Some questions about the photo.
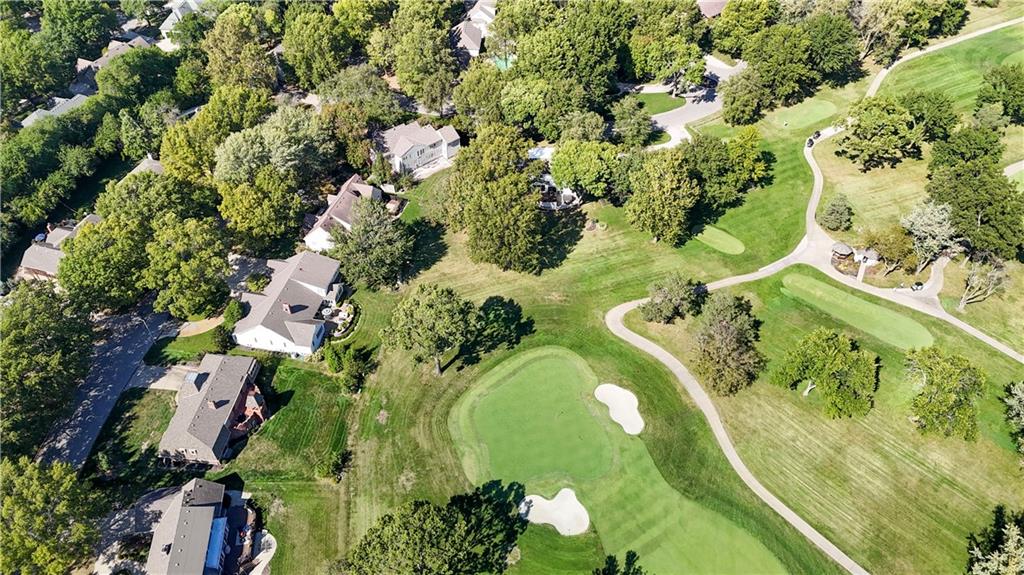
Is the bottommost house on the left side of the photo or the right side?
left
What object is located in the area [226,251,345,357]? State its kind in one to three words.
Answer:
house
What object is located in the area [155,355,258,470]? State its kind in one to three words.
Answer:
house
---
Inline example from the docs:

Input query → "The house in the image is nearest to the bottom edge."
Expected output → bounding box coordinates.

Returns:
[142,479,232,575]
